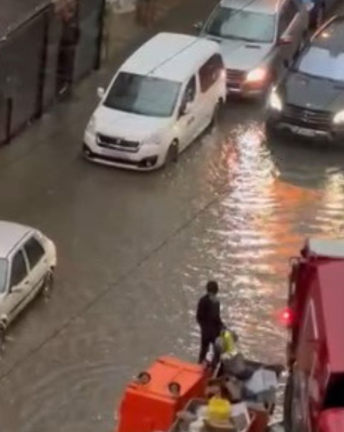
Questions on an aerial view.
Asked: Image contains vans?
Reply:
Yes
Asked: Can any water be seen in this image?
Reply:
Yes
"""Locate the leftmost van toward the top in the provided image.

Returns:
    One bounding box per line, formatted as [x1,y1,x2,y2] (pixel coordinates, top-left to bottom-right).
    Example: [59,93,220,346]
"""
[85,27,232,174]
